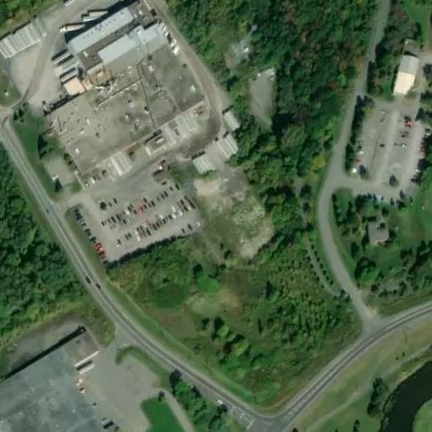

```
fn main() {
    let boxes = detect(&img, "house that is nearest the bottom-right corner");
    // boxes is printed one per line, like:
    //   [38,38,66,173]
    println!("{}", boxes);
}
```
[368,225,388,246]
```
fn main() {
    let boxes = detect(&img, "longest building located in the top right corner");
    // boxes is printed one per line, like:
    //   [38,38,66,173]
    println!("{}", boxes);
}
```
[394,41,421,96]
